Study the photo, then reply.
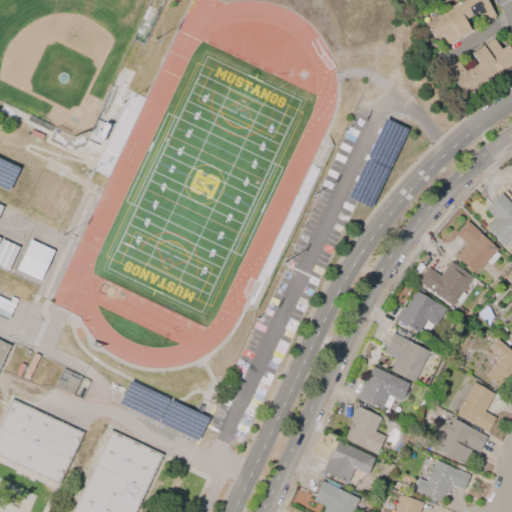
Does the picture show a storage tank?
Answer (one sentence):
No, the frame has no storage tank in it.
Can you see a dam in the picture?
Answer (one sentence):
No, I can see no dam in this picture.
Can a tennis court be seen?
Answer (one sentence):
No, I can see no tennis court in this picture.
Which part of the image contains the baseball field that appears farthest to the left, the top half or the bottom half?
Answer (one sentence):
The baseball field that appears farthest to the left is in the top half of the image.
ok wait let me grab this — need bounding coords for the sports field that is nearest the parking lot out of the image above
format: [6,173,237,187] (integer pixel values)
[96,42,316,326]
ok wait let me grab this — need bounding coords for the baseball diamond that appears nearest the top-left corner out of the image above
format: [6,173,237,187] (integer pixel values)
[0,0,151,135]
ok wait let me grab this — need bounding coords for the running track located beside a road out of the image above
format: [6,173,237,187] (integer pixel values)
[54,0,342,372]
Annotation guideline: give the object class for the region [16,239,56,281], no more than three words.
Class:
building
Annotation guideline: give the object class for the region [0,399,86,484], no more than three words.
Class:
building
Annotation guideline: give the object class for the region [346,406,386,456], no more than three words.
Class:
house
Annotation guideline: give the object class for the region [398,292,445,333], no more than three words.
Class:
house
